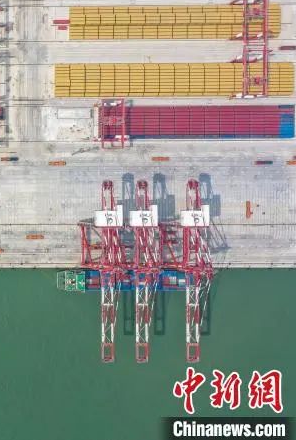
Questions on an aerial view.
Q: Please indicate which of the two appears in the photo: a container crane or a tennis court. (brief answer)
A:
container crane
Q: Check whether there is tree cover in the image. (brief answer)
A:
No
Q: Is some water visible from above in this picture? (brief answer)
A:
Yes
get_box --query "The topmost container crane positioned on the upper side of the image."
[228,0,268,43]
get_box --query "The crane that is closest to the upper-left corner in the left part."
[92,97,125,148]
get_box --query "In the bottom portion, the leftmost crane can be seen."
[79,177,124,361]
